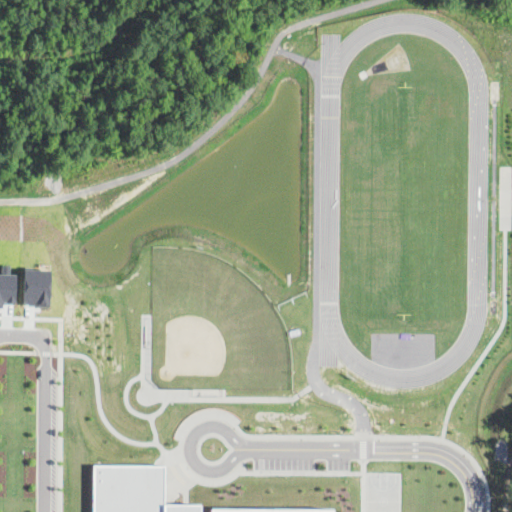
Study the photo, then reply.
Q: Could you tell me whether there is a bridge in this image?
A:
No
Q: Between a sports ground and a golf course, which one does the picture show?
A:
sports ground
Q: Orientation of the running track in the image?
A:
from top to bottom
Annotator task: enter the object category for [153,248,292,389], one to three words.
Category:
baseball field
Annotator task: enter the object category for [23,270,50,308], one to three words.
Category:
house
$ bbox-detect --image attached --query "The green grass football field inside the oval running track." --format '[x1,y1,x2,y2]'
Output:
[340,34,468,361]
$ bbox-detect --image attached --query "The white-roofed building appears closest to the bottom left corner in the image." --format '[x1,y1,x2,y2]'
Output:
[92,464,166,512]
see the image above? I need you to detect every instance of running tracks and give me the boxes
[320,14,488,389]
